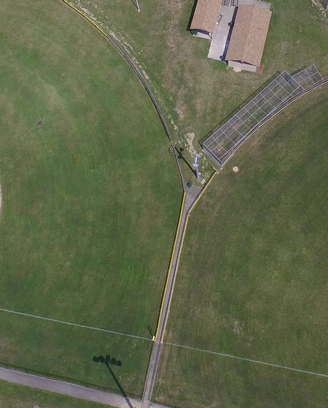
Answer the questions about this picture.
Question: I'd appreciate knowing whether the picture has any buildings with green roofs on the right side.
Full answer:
No, there is no building with a green roof on the right side.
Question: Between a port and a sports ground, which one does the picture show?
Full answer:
The picture captures a sports ground.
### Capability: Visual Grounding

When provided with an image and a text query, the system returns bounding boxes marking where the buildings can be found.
[226,5,270,70]
[190,0,223,39]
